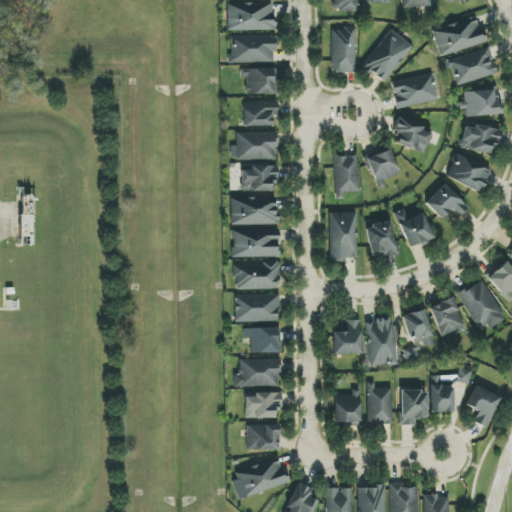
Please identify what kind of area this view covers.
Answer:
residential area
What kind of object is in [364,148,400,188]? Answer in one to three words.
house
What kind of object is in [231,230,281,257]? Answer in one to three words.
house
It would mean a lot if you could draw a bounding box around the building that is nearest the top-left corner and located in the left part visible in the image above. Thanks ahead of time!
[15,187,38,246]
